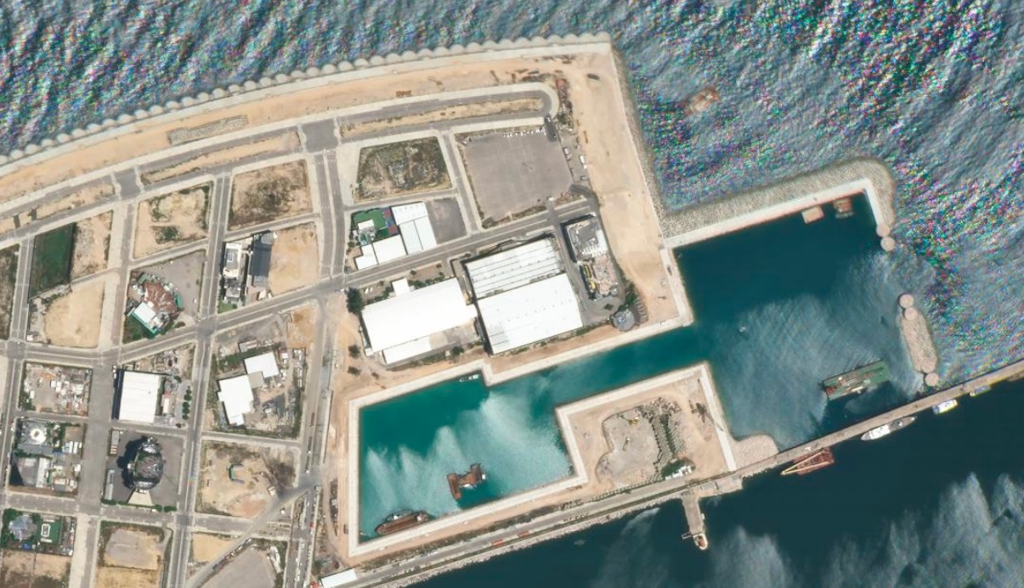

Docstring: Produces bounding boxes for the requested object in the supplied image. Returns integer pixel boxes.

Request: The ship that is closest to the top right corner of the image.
[833,197,853,218]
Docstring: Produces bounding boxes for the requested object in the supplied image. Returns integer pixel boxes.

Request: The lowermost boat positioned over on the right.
[693,533,706,551]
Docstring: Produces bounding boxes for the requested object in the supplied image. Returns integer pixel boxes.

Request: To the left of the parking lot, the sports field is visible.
[354,207,398,241]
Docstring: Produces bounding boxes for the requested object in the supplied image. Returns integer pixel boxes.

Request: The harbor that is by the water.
[349,239,737,556]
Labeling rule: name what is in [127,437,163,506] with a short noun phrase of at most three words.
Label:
building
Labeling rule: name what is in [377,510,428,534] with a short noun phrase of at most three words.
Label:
ship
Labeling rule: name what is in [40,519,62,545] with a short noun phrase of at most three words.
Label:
sports court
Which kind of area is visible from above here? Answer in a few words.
port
